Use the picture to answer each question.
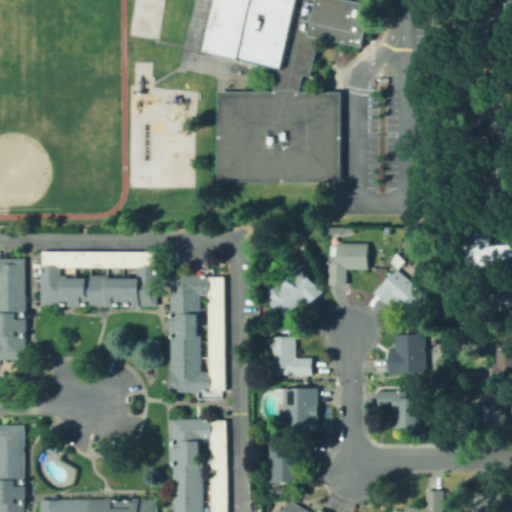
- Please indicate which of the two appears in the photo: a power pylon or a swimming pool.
swimming pool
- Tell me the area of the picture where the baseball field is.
top left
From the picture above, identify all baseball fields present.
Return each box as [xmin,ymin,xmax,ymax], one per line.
[0,0,121,214]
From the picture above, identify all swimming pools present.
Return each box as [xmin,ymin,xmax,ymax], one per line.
[42,450,76,487]
[260,388,286,420]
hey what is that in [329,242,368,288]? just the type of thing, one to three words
house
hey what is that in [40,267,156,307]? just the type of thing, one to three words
building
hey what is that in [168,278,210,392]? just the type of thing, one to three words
building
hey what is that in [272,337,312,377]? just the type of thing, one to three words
house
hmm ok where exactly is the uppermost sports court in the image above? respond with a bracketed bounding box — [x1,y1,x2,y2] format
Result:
[130,0,164,40]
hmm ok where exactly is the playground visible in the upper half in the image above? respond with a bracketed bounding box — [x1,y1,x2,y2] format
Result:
[130,62,200,188]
